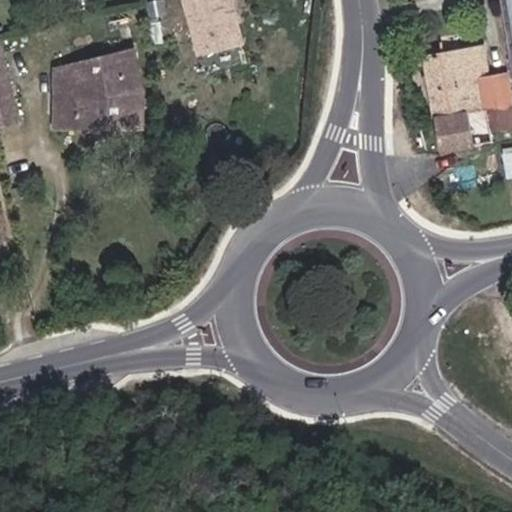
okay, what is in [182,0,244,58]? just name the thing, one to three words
house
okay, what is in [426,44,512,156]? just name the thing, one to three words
house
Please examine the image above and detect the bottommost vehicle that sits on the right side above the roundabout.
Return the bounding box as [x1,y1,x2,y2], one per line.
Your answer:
[435,154,456,168]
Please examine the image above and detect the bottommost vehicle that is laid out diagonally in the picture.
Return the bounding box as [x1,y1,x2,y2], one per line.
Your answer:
[428,308,448,326]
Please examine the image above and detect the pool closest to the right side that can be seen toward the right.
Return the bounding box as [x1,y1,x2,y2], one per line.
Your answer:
[456,165,478,192]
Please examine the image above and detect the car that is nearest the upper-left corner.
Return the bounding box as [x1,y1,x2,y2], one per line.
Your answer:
[12,50,24,72]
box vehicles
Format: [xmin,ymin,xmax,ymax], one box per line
[491,46,502,68]
[8,163,29,174]
[428,308,448,326]
[12,50,24,72]
[38,72,48,92]
[305,378,325,388]
[435,154,456,168]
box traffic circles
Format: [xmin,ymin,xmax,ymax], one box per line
[214,184,444,414]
